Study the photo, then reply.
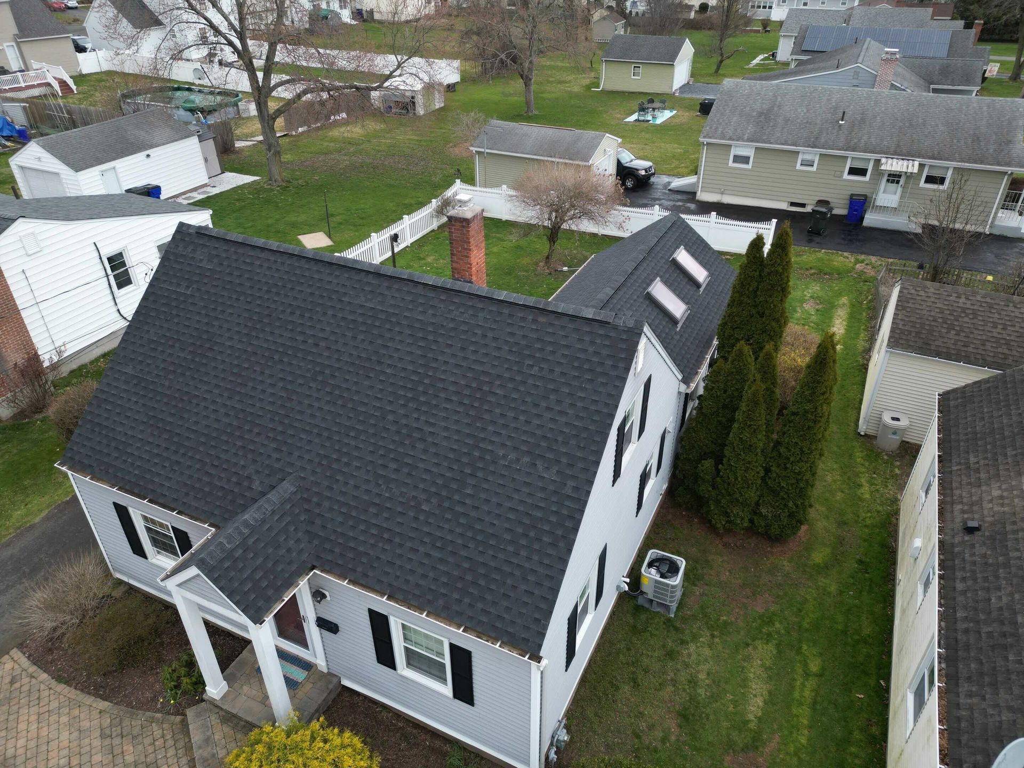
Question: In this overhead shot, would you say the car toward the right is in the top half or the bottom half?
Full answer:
Seen from above, the car toward the right lies in the top half of the view.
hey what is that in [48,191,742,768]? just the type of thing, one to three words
house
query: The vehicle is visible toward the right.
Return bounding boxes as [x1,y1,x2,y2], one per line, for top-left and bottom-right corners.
[604,142,660,188]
